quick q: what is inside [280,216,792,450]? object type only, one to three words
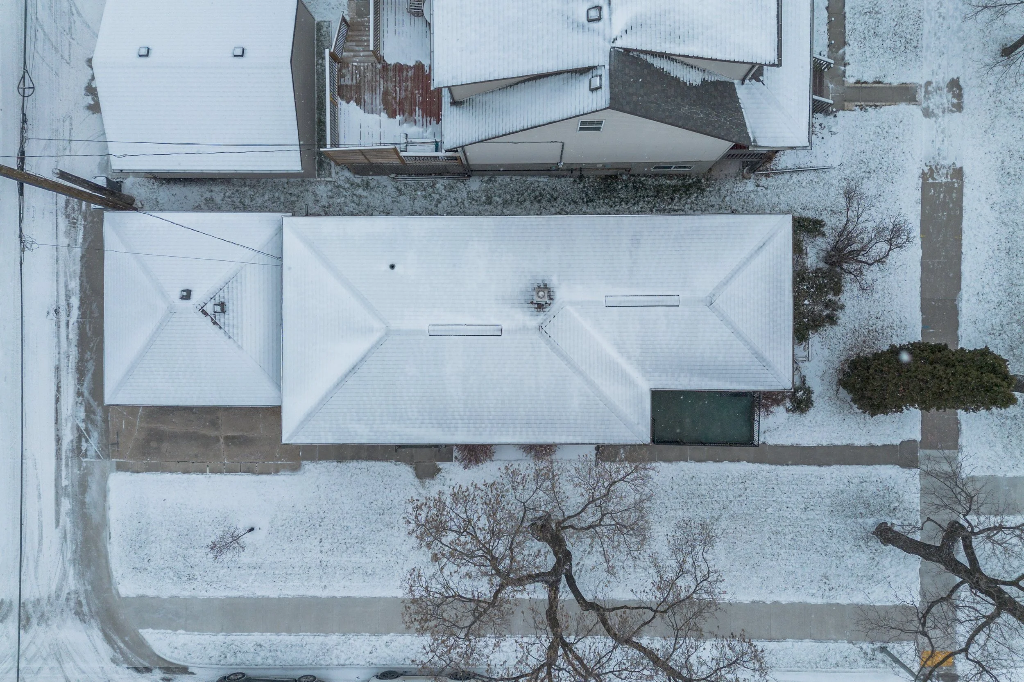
house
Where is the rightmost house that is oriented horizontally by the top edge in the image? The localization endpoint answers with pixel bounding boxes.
[430,0,835,178]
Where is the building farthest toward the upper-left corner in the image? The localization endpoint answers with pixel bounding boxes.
[92,0,316,179]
